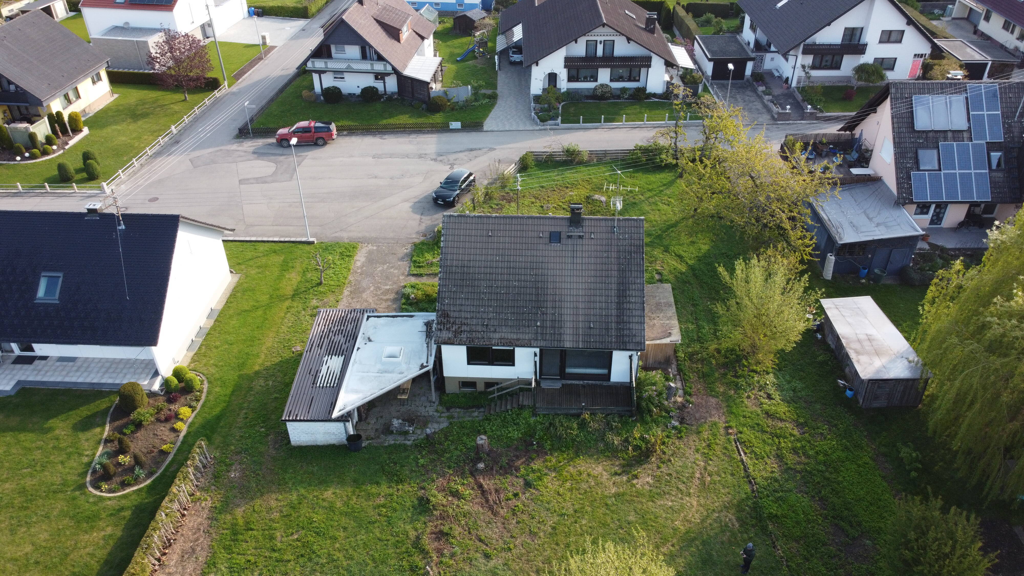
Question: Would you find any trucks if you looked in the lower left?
No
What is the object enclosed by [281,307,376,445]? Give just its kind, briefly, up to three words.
building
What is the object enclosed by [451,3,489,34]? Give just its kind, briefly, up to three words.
shed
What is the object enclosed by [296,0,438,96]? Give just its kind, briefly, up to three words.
house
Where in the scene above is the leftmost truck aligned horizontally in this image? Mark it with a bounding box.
[272,116,337,146]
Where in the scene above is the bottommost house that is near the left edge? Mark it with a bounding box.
[0,201,236,374]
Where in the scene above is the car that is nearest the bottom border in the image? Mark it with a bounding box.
[431,164,479,204]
